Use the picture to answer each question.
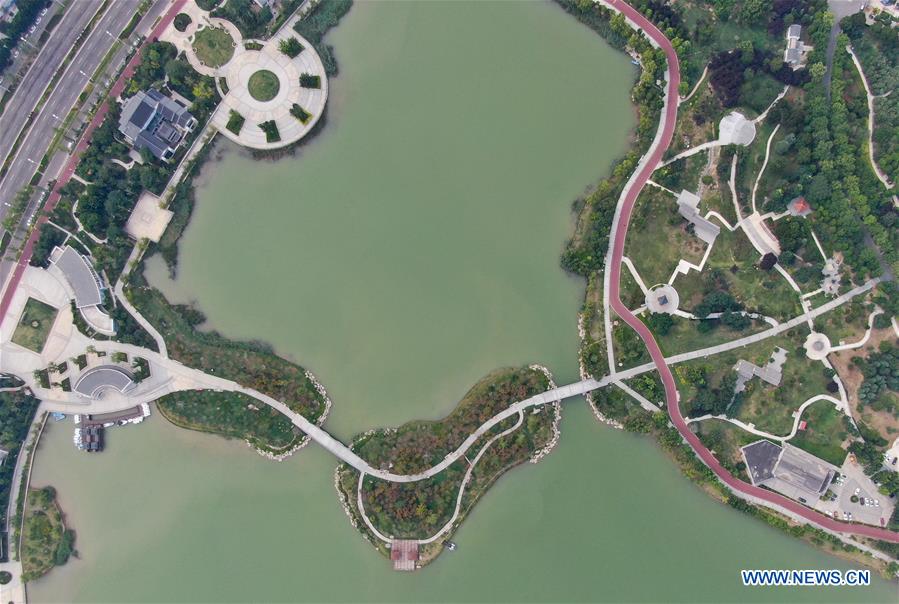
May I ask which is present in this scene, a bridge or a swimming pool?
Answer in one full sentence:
I can see a bridge in this picture.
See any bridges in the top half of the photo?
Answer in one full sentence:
No, no bridge appears in the top half of the photo.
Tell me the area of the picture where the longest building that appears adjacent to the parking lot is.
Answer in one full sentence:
Look in the bottom right portion of the view to spot the longest building that appears adjacent to the parking lot.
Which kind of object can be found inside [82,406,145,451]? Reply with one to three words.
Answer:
pier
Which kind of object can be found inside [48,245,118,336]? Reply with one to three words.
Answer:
building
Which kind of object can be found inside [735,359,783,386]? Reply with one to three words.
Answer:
building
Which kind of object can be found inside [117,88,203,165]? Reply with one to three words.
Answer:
house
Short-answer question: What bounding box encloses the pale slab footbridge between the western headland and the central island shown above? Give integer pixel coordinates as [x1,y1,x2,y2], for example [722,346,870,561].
[299,419,356,463]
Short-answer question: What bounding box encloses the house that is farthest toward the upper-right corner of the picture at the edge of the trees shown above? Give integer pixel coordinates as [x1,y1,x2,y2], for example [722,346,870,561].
[782,25,803,65]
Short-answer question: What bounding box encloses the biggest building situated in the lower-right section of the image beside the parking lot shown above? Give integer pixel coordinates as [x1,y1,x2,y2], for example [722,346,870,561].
[737,437,837,494]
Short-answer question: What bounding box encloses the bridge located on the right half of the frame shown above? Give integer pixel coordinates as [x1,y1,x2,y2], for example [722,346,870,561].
[534,378,597,404]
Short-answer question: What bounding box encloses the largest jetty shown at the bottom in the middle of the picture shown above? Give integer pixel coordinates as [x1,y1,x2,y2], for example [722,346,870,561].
[392,539,418,570]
